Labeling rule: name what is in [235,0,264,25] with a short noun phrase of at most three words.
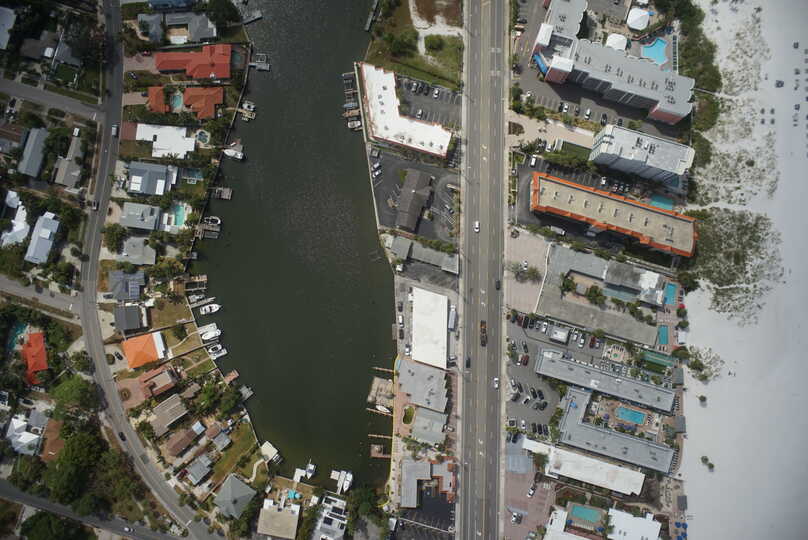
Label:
pier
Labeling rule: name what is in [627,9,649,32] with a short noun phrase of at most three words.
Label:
tent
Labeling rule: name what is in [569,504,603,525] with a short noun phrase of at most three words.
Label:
swimming pool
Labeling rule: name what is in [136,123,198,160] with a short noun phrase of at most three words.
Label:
house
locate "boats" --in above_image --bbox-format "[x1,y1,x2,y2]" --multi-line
[224,149,245,159]
[204,216,221,224]
[188,294,204,302]
[198,305,220,314]
[307,461,316,478]
[207,344,222,354]
[344,103,358,109]
[200,332,220,341]
[348,120,362,128]
[241,101,255,110]
[377,405,391,414]
[343,110,361,116]
[343,470,354,493]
